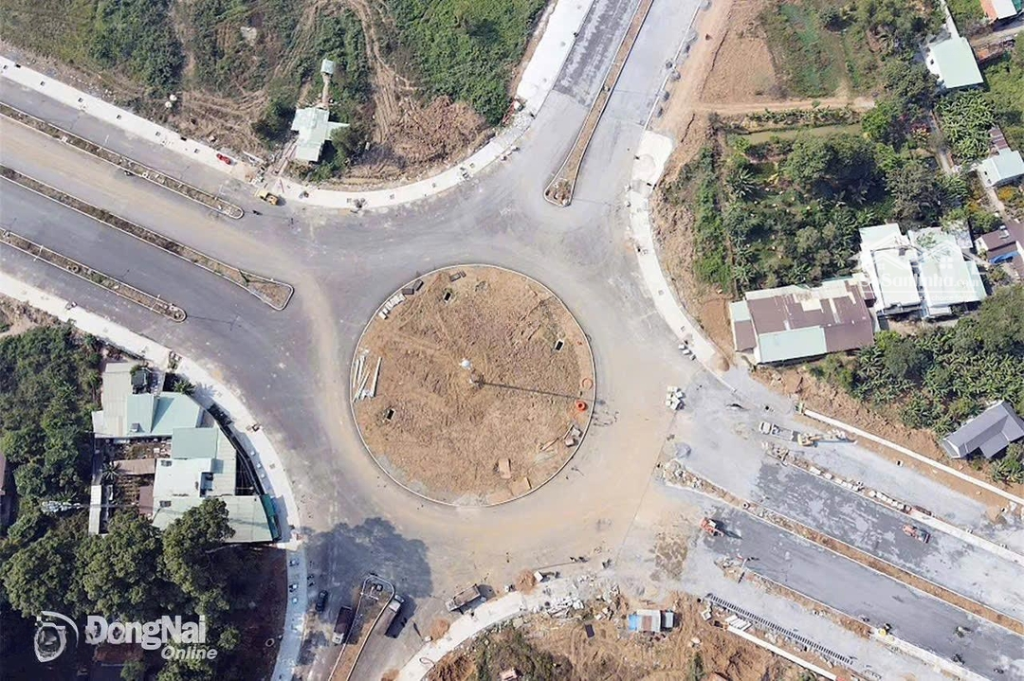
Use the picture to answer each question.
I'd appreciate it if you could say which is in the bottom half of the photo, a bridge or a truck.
truck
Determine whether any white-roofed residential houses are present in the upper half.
Yes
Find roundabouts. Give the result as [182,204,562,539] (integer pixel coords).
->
[283,201,665,581]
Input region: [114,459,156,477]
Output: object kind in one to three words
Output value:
shed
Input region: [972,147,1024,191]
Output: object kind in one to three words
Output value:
house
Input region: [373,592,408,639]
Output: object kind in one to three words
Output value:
truck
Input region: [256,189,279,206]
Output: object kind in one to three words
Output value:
work vehicle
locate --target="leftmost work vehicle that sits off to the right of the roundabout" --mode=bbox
[697,514,725,539]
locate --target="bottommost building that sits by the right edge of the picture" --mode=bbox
[940,403,1024,459]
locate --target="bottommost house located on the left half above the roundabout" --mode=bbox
[291,108,349,165]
